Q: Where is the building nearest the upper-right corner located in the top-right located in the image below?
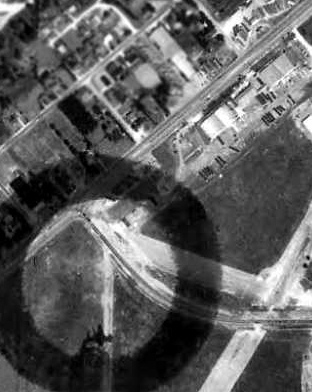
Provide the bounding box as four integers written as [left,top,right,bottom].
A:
[260,54,294,86]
